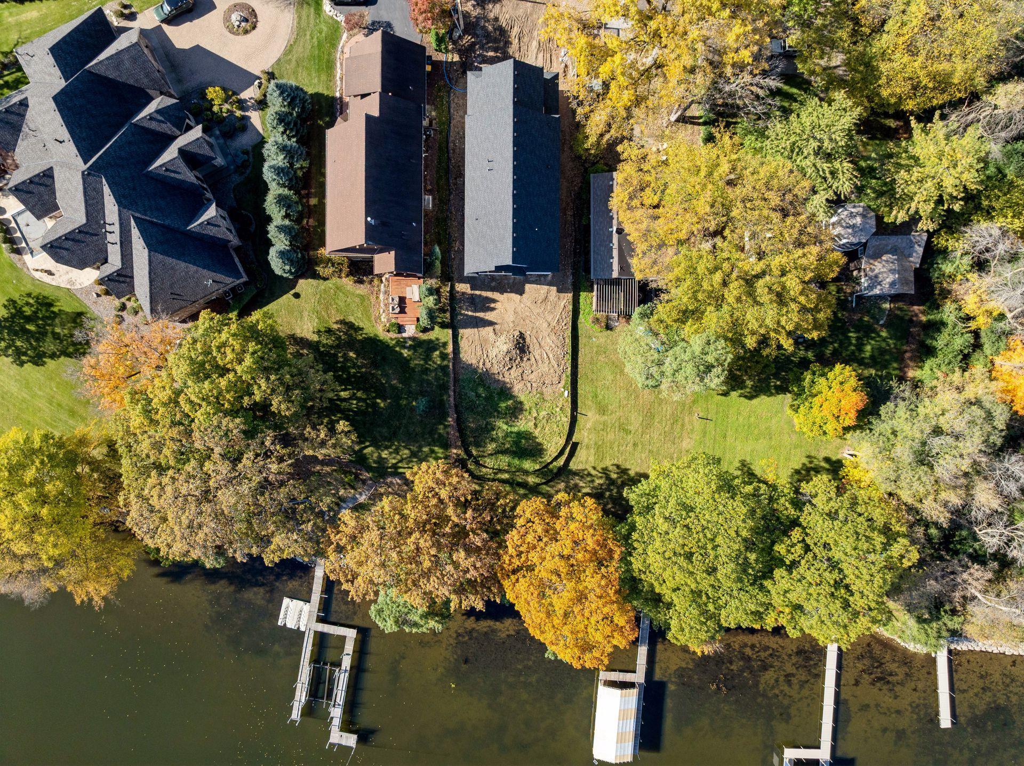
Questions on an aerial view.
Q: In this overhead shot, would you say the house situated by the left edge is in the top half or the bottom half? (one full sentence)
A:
Seen from above, the house situated by the left edge lies in the top half of the view.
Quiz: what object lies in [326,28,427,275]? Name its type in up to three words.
house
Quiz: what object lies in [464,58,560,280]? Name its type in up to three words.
house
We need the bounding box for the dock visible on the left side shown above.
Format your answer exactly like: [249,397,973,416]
[288,558,358,754]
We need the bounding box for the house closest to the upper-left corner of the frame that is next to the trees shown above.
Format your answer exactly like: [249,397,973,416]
[0,6,250,322]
